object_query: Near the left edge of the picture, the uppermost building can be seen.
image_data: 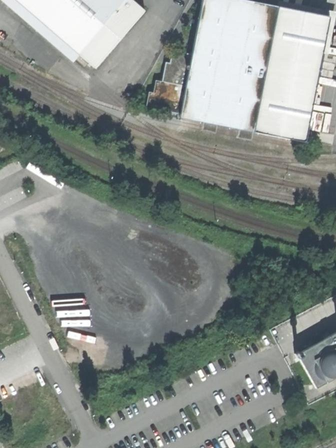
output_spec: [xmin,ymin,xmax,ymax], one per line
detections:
[2,0,103,60]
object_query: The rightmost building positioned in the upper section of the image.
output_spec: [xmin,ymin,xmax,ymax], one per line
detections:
[256,4,330,139]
